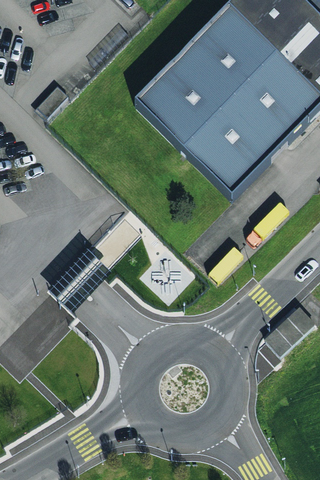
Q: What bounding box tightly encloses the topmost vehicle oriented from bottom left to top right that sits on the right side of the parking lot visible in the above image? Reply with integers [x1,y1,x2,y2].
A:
[245,202,288,252]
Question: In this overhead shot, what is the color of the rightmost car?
white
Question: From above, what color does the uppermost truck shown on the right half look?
yellow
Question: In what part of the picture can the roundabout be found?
bottom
